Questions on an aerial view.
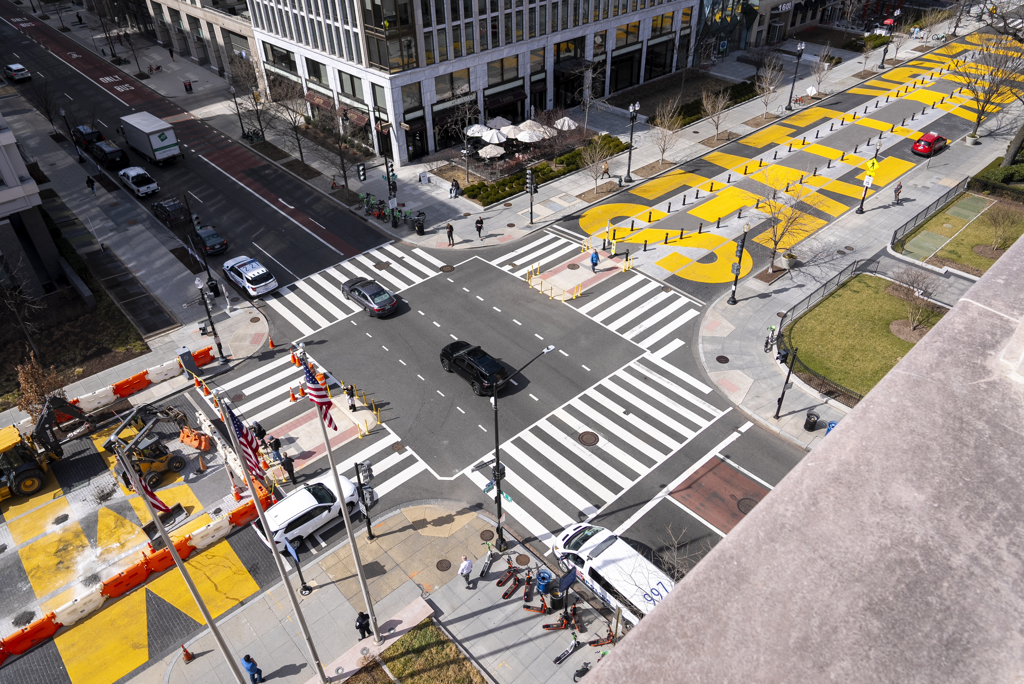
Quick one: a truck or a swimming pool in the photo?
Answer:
truck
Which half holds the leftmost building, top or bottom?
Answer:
top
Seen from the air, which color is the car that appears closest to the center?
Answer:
black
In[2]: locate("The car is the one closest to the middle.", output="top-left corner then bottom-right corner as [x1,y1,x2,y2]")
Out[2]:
[438,343,512,401]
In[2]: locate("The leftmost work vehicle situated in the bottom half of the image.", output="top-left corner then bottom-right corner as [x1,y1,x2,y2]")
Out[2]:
[0,399,113,499]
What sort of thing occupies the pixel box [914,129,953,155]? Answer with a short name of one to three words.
car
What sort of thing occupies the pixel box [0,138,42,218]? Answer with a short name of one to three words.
building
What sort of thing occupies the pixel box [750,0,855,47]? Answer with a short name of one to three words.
building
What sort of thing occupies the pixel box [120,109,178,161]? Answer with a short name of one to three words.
truck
